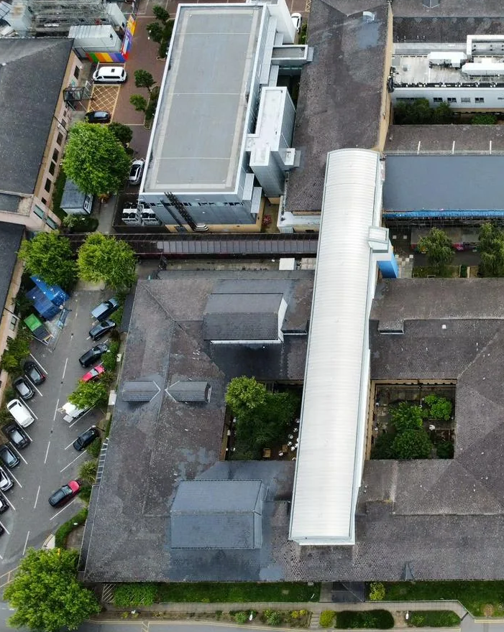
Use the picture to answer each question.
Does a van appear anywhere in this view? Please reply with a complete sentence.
Yes, the photo shows a van.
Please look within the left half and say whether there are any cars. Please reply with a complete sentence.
Yes, a car shows up within the left half.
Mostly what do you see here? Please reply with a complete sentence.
The scene is dominated by buildings.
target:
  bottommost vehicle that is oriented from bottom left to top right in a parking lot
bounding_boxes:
[46,478,81,507]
